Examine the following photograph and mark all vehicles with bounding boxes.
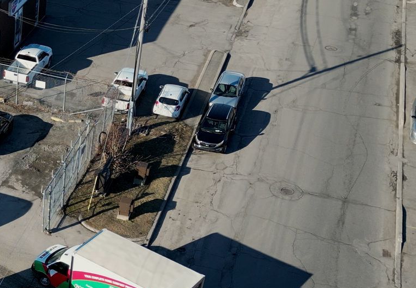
[0,107,15,139]
[27,229,205,288]
[211,74,248,115]
[1,43,54,88]
[151,81,190,118]
[100,66,149,116]
[193,99,237,152]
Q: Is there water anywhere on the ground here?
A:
No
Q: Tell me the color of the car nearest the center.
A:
black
